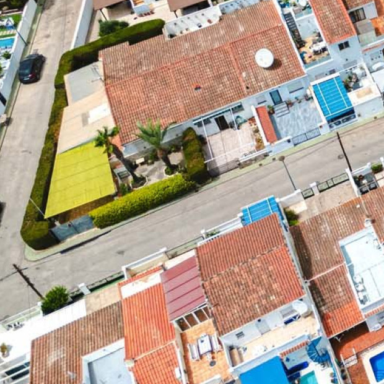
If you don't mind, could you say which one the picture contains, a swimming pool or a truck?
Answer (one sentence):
Visible in the photo is a swimming pool.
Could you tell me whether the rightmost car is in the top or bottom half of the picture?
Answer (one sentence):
It is in the top half that the rightmost car appears.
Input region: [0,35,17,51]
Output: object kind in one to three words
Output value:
swimming pool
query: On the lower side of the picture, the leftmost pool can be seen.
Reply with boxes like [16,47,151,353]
[295,368,323,384]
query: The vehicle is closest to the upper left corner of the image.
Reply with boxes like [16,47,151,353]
[16,57,48,82]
